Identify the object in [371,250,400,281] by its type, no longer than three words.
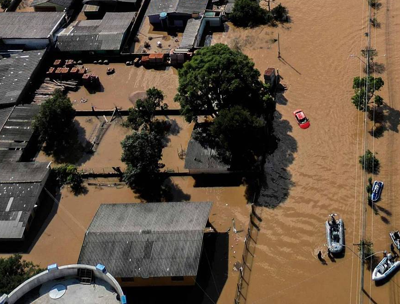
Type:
boat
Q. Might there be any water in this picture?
Yes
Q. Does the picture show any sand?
No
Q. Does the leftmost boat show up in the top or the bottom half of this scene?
bottom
